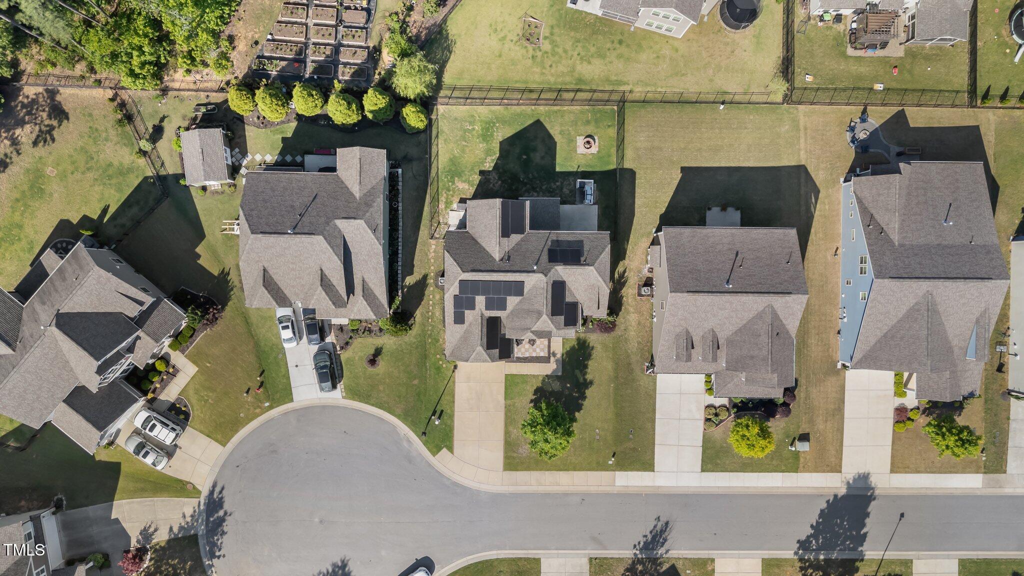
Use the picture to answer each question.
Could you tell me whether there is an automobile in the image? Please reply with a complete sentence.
Yes, this view includes an automobile.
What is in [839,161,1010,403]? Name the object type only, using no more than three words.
house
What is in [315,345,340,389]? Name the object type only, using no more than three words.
car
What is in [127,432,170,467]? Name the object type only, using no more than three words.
car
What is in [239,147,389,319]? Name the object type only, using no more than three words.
house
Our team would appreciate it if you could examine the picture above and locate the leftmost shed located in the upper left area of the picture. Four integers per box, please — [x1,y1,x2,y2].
[179,128,234,185]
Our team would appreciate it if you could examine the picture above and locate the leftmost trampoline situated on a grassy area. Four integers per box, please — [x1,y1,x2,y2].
[718,0,764,29]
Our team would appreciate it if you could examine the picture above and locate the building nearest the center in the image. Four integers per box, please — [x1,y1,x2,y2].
[445,197,610,362]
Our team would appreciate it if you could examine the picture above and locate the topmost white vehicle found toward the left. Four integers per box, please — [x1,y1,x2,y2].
[276,307,301,348]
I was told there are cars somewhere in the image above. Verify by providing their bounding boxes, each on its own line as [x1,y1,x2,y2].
[139,409,185,446]
[127,432,170,467]
[315,345,340,389]
[304,307,329,345]
[276,307,301,348]
[406,565,430,576]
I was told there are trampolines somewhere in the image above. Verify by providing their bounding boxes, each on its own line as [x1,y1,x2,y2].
[1006,9,1024,45]
[718,0,764,29]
